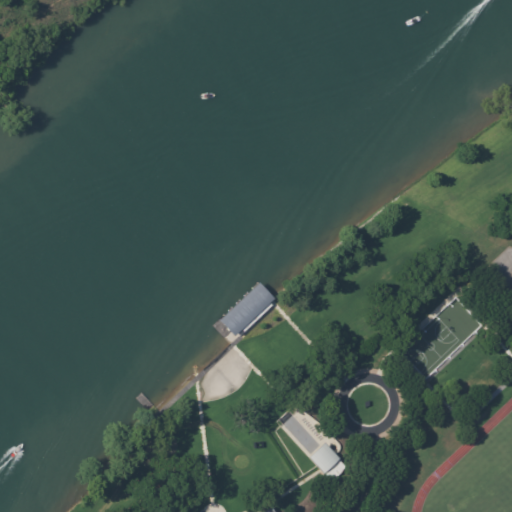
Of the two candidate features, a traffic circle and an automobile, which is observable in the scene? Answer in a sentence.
Looking from above, you can make out a traffic circle.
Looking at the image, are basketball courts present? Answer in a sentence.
Yes, there's a basketball court down there.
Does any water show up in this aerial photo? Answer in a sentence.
Yes, water can be seen from above here.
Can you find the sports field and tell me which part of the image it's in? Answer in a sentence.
You can find the sports field in the bottom right area of the picture.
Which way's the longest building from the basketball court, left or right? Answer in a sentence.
You can see the longest building positioned to the left of the basketball court.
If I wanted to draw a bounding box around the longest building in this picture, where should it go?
[214,282,276,343]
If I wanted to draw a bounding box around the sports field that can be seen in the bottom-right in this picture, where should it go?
[422,410,512,512]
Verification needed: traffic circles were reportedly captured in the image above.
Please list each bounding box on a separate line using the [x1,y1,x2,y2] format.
[340,373,399,432]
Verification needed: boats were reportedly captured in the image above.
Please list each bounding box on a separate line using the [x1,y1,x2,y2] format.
[200,93,216,100]
[404,16,421,26]
[12,448,22,460]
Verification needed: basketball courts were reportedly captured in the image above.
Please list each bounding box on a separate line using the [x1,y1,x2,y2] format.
[402,298,481,378]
